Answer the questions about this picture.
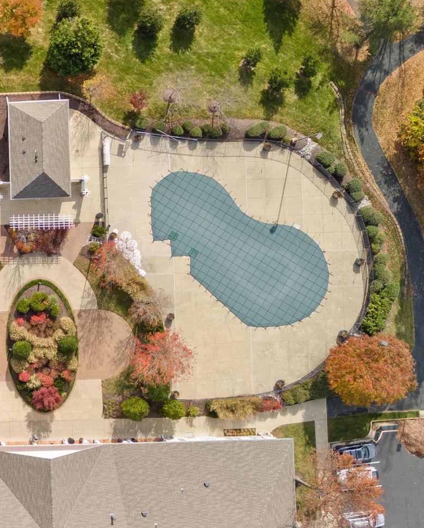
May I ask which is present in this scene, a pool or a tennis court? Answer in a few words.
pool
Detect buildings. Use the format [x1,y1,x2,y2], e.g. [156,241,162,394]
[0,436,295,528]
[8,100,71,200]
